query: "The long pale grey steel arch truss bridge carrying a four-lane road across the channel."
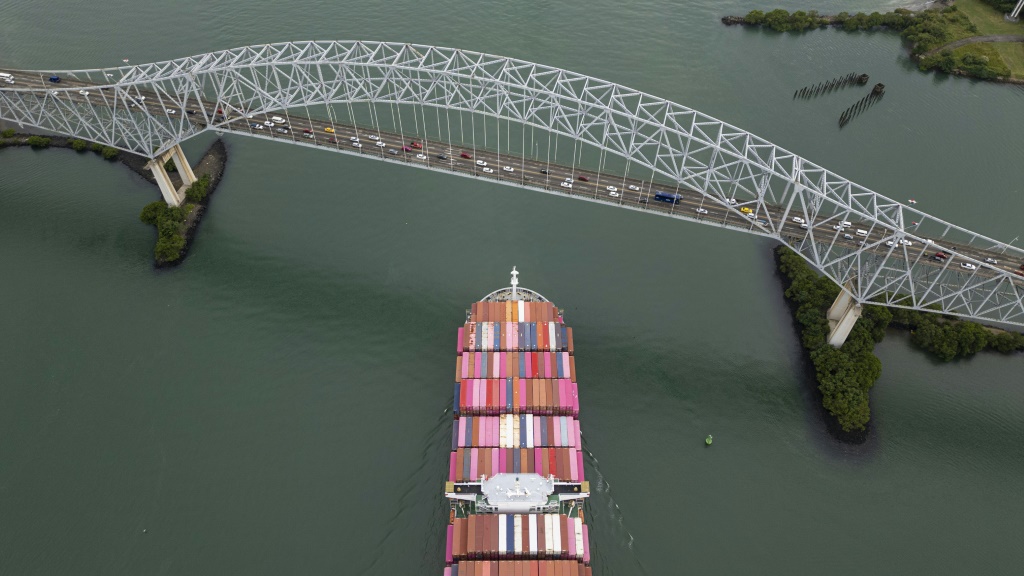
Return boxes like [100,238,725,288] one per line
[0,40,1024,347]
